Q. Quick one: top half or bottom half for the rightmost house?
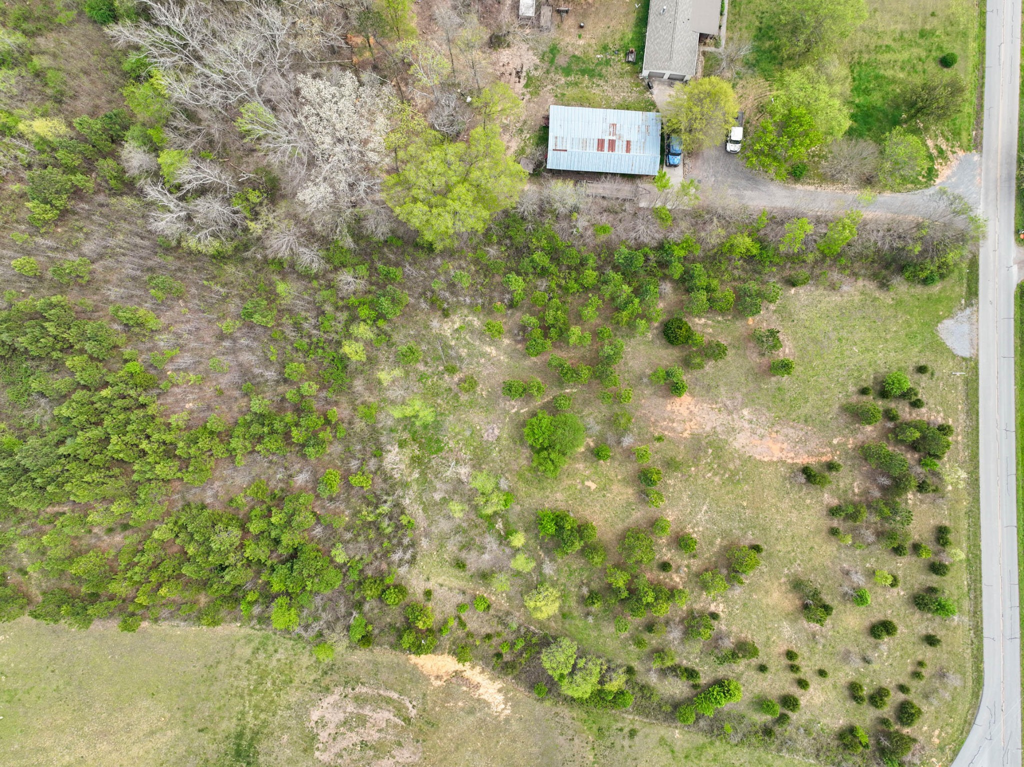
top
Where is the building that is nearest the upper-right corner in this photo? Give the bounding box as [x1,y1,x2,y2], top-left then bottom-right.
[643,0,724,79]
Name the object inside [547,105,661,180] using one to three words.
shed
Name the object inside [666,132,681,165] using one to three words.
car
